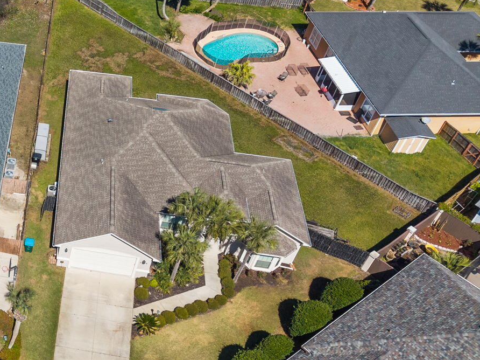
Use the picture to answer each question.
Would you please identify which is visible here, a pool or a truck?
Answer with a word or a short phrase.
pool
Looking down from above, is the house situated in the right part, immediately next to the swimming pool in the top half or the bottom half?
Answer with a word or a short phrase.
top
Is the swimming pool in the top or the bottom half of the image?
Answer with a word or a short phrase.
top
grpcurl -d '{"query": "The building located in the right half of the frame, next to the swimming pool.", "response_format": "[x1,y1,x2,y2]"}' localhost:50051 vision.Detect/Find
[302,11,480,137]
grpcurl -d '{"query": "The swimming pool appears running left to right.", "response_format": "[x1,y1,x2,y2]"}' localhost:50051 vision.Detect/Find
[192,28,290,70]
